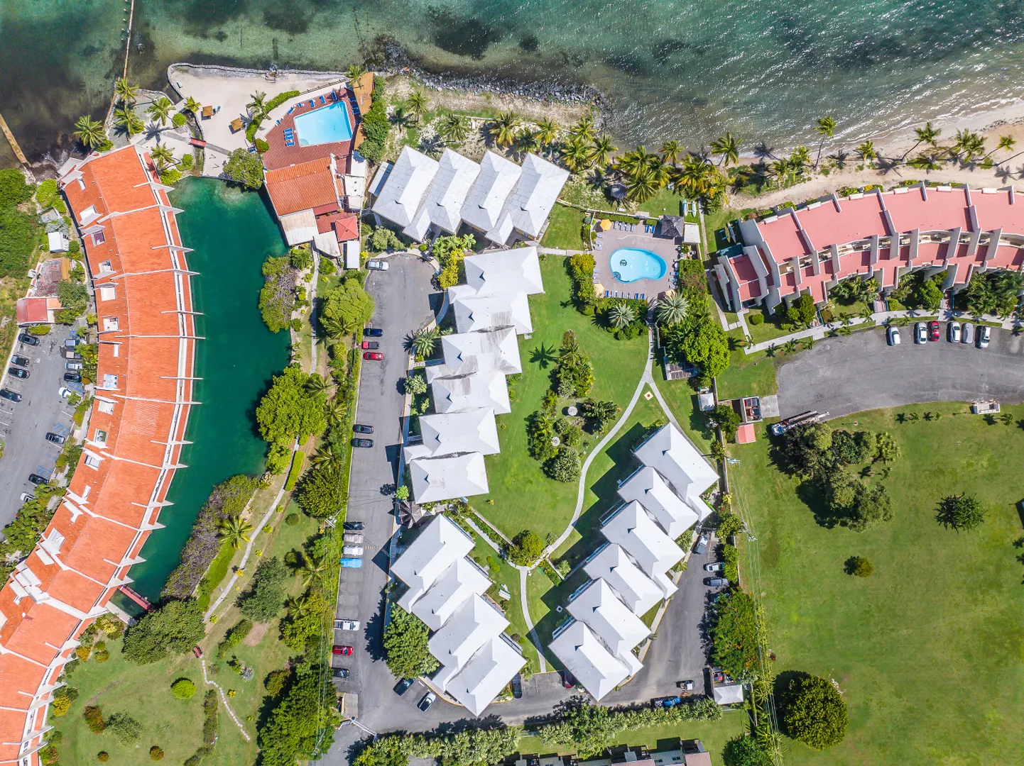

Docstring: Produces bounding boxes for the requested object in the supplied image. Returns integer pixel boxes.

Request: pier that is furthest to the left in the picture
[0,115,33,165]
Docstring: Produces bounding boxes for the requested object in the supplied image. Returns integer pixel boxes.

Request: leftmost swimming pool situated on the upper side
[252,76,360,177]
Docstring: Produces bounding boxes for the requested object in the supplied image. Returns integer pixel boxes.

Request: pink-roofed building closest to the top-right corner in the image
[714,180,1024,320]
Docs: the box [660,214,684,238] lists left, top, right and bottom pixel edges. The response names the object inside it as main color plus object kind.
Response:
gray gazebo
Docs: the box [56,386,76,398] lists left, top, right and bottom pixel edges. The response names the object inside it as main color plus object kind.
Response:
white vehicle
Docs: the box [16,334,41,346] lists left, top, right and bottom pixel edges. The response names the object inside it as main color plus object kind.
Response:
black vehicle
